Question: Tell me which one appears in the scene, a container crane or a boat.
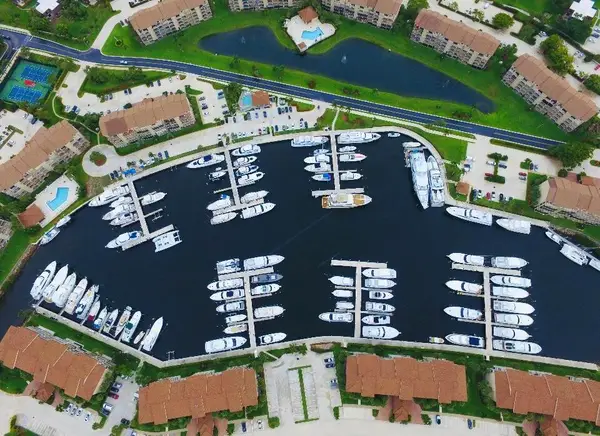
boat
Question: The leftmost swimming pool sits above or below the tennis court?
below it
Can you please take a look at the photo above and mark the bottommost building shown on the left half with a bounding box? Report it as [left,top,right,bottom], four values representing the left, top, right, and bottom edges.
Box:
[137,366,259,436]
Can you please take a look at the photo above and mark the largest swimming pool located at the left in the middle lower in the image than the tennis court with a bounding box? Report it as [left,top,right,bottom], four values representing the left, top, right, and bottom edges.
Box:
[36,177,79,229]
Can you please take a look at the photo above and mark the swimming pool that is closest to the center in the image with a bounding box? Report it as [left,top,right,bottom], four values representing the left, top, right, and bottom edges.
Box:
[238,91,255,110]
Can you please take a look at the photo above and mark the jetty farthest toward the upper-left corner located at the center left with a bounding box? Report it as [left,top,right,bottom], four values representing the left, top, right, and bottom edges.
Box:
[120,180,175,251]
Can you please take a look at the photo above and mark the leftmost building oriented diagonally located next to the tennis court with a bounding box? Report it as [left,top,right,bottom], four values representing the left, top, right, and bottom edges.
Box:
[0,117,86,196]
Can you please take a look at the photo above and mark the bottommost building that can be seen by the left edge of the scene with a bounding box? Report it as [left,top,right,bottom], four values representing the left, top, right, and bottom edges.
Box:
[0,324,115,403]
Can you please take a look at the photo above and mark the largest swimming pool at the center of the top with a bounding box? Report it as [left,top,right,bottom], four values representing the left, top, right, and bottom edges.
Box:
[287,14,335,52]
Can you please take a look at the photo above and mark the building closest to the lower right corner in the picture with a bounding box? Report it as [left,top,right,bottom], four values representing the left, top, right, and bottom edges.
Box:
[486,365,600,436]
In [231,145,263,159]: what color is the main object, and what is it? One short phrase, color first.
white boat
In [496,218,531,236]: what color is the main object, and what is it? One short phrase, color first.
white boat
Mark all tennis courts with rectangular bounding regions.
[0,56,58,104]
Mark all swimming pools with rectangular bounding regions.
[36,177,79,229]
[287,14,335,52]
[238,91,255,110]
